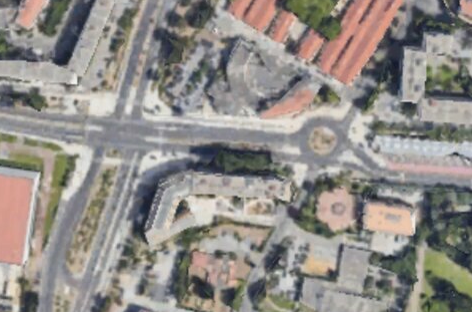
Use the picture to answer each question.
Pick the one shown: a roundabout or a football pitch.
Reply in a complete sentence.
Looking from above, you can make out a roundabout.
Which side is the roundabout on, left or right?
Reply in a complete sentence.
The roundabout sits on the right side.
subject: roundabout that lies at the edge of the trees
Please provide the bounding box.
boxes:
[296,113,350,167]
